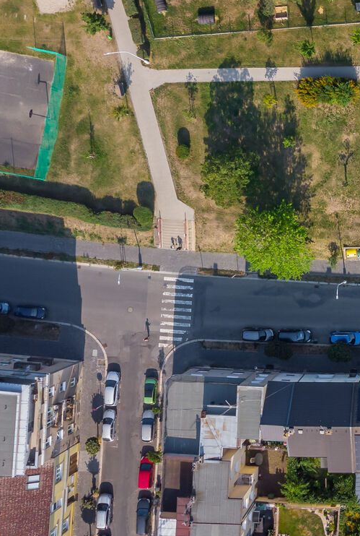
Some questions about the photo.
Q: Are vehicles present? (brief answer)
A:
Yes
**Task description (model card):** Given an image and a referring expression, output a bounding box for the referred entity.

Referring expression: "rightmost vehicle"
[331,331,360,346]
